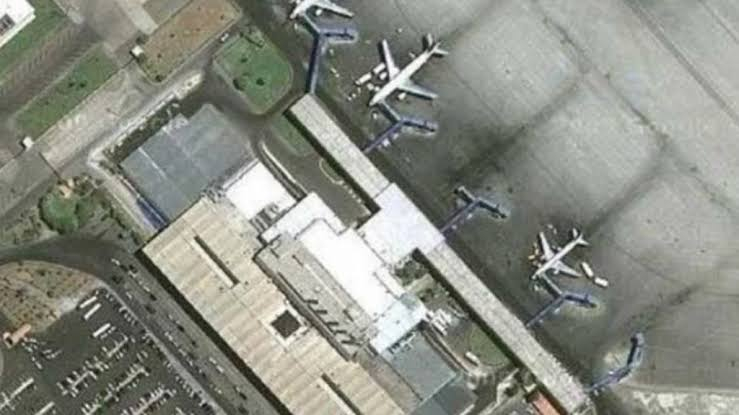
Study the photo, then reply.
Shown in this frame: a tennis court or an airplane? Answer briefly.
airplane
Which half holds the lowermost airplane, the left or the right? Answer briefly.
right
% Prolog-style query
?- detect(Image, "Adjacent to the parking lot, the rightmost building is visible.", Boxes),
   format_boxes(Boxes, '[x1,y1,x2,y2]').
[121,105,477,415]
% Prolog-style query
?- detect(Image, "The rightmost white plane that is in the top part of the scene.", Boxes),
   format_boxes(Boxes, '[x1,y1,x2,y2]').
[370,34,448,104]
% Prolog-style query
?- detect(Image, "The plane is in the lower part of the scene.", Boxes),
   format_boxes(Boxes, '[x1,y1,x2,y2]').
[533,227,588,278]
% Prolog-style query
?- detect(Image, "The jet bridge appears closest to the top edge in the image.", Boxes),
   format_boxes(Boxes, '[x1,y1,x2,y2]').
[304,12,358,95]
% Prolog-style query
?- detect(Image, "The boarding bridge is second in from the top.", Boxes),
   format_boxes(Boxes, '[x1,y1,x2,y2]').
[364,99,438,153]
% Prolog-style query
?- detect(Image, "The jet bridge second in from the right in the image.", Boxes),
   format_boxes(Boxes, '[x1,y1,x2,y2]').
[526,275,598,326]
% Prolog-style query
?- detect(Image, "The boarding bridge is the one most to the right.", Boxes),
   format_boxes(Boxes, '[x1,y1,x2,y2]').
[590,332,644,389]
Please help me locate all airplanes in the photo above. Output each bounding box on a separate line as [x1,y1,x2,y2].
[533,227,588,278]
[370,34,448,104]
[289,0,356,18]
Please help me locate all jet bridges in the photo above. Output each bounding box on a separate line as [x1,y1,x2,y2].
[364,99,438,153]
[441,185,510,233]
[590,332,644,389]
[304,12,358,95]
[526,275,598,326]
